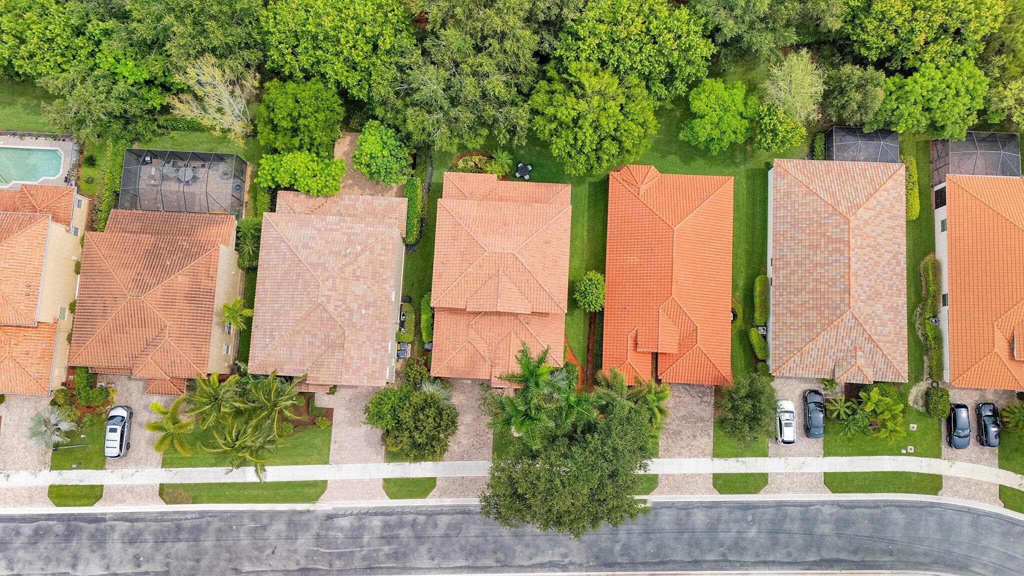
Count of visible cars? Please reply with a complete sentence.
The photo contains 5 cars.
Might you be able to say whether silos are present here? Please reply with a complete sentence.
No, there is no silo in the image.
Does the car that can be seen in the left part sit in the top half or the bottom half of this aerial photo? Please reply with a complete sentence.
The car that can be seen in the left part sits in the bottom half of the picture.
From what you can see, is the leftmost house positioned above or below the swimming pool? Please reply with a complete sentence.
The leftmost house appears below the swimming pool in the picture.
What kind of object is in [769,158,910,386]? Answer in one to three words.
house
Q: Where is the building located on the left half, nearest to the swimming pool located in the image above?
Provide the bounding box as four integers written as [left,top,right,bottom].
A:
[0,183,93,396]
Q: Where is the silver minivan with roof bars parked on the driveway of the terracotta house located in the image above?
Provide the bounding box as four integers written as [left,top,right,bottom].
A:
[102,407,132,460]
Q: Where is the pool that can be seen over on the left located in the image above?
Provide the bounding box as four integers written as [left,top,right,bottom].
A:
[0,145,64,187]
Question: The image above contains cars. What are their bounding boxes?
[102,407,132,460]
[945,404,974,450]
[774,401,799,447]
[974,403,1003,449]
[803,391,826,440]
